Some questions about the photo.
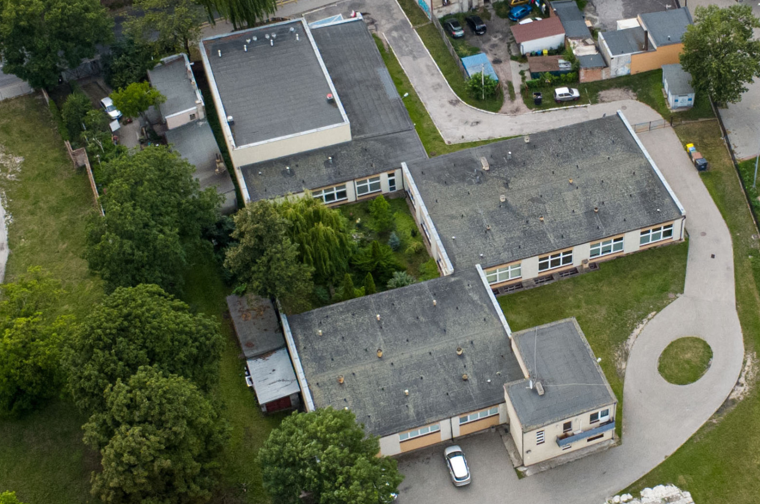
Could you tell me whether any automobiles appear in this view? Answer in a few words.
Yes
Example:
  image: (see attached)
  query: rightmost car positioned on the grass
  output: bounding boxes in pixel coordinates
[552,87,581,104]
